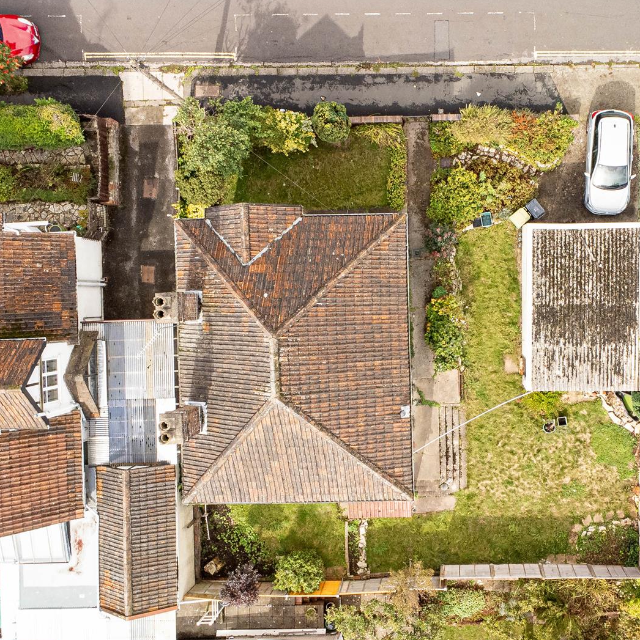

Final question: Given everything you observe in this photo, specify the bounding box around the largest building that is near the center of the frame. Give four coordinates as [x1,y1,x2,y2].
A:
[150,204,416,518]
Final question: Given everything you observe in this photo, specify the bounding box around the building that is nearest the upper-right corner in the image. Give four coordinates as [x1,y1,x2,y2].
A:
[523,221,640,392]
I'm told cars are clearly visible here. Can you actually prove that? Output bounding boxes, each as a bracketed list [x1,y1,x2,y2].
[583,110,638,216]
[0,16,44,67]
